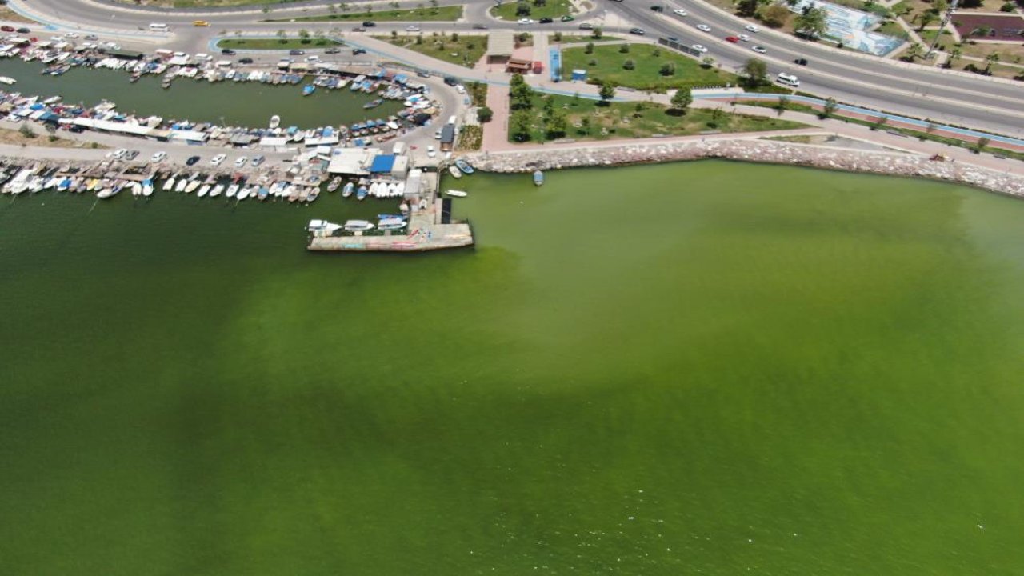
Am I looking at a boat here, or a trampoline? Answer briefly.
boat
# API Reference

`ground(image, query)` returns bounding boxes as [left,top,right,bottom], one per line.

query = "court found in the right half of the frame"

[952,14,1024,45]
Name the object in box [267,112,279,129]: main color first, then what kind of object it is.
white boat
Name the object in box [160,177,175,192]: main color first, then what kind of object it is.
white boat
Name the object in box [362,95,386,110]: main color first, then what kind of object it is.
gray boat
